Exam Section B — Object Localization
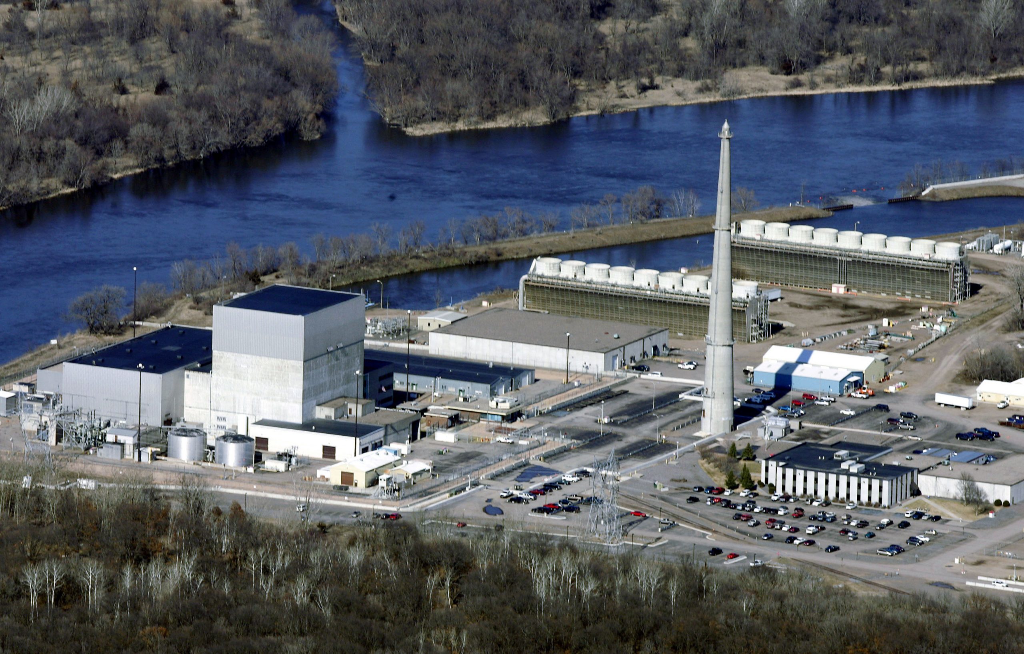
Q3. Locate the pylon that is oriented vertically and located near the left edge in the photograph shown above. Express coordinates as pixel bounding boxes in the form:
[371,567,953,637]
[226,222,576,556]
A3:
[23,377,66,467]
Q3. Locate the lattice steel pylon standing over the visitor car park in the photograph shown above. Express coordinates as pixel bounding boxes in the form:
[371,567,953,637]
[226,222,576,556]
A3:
[581,442,623,542]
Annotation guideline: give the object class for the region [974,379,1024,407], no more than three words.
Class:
building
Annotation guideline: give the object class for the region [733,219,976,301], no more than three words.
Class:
cooling tower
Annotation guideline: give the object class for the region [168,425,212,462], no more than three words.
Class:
storage tank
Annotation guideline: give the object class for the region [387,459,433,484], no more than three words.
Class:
shed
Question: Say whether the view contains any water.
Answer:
Yes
